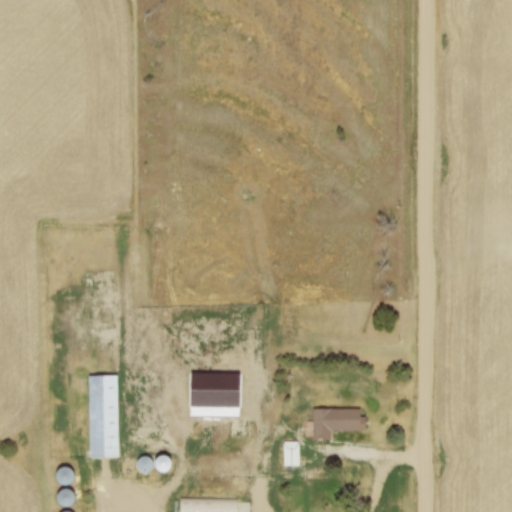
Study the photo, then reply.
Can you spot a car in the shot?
No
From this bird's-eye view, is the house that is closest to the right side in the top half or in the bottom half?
bottom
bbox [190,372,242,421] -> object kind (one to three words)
barn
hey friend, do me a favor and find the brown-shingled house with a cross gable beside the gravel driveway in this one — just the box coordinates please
[305,408,366,442]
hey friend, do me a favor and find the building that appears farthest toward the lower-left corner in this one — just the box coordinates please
[88,375,120,458]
